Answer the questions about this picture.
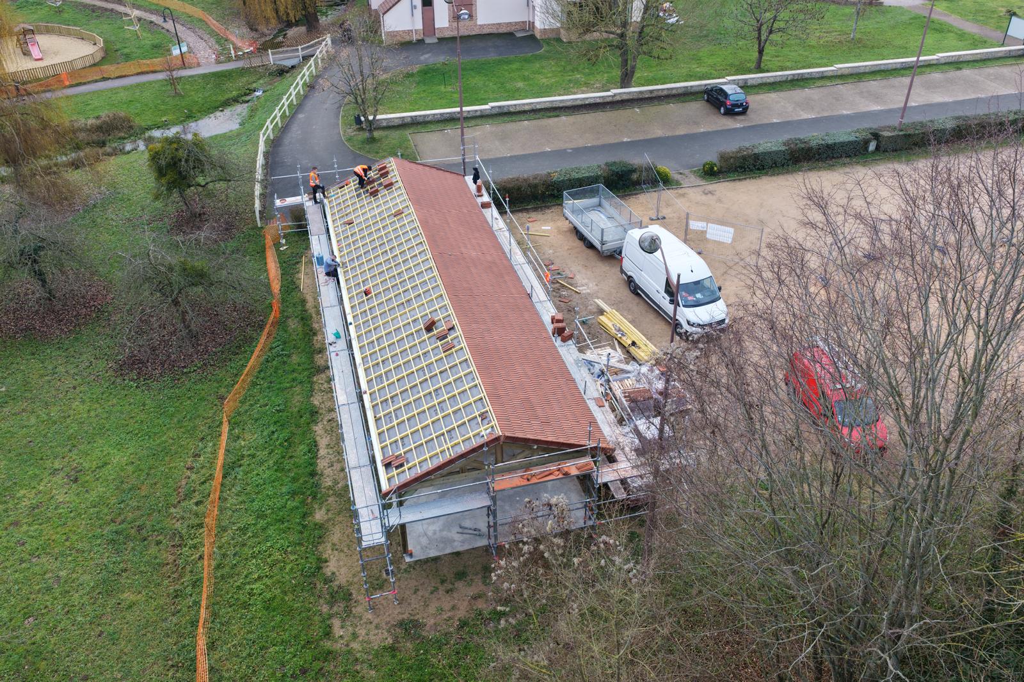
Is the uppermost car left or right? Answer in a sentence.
You can find the uppermost car on the right side of the picture.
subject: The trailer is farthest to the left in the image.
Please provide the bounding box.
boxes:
[564,188,647,256]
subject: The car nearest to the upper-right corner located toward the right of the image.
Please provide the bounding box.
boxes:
[703,83,752,114]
